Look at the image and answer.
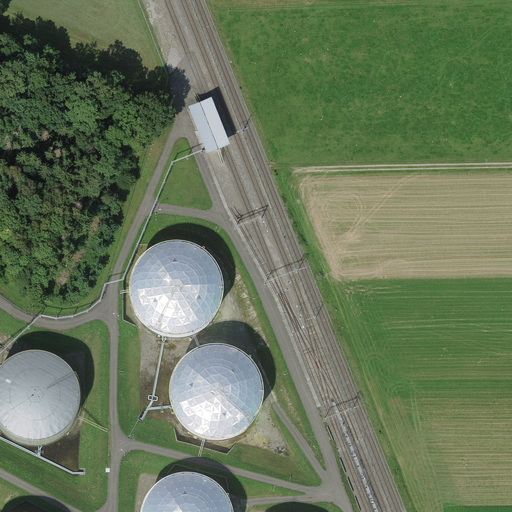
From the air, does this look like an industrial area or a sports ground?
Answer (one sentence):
The area seen from above is an industrial area.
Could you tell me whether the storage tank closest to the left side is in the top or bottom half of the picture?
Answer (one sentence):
The storage tank closest to the left side is in the bottom half of the image.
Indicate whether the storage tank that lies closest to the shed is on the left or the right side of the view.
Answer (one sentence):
You can find the storage tank that lies closest to the shed on the left side of the picture.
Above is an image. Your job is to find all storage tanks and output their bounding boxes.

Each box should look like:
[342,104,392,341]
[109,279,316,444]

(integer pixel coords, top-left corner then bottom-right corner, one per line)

[141,472,236,512]
[169,343,266,440]
[130,240,226,337]
[0,349,84,444]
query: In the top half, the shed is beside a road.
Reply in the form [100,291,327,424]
[189,97,230,156]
